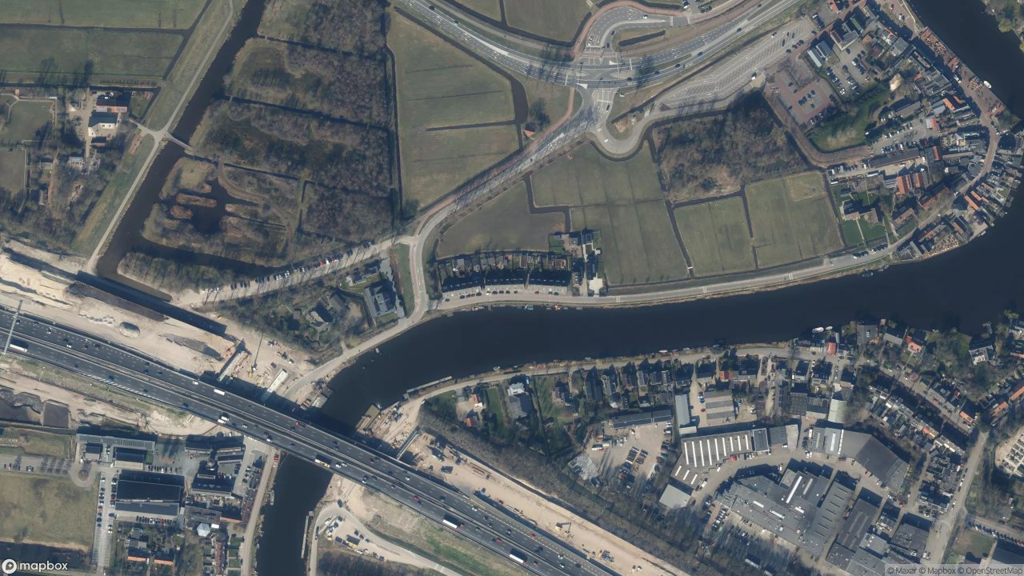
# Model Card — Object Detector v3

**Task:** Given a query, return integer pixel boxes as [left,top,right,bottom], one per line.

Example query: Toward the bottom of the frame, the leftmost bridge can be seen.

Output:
[222,390,419,504]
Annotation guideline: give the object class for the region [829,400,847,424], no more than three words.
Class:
building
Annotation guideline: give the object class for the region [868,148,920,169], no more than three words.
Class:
house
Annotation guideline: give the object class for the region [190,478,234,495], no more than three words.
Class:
building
